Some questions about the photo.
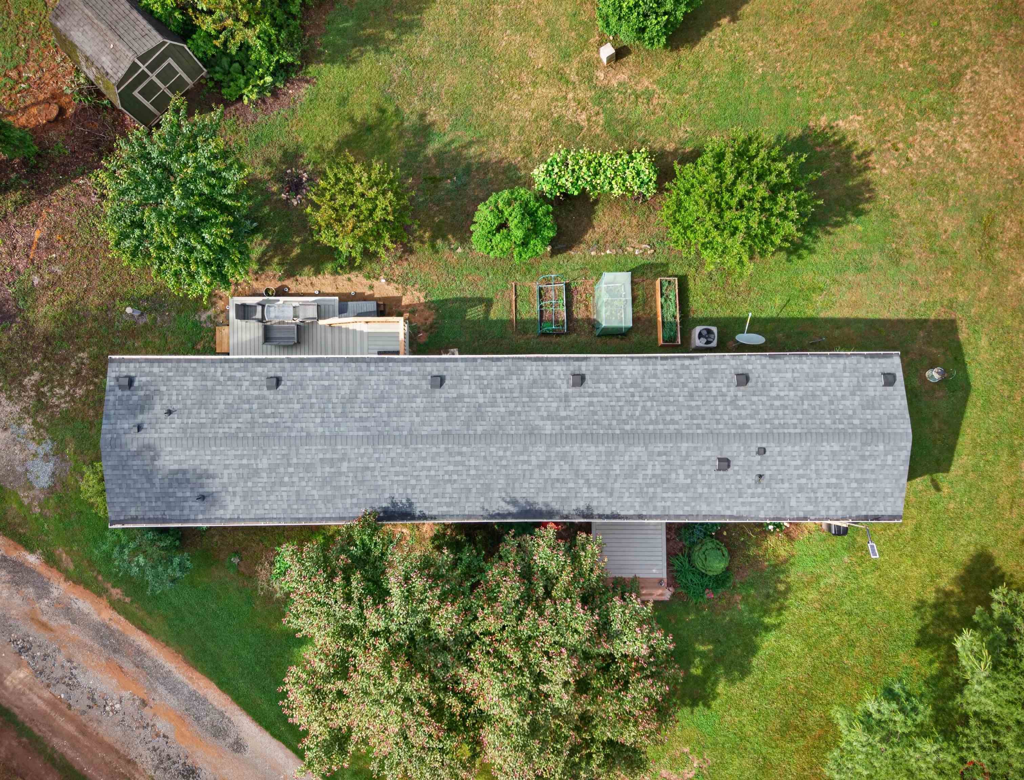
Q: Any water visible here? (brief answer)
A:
No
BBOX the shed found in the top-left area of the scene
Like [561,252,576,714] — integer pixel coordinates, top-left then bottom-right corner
[49,0,208,127]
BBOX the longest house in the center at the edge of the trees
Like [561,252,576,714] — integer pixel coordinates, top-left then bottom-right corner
[99,352,911,527]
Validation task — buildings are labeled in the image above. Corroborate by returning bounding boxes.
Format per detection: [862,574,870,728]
[99,352,911,527]
[49,0,208,127]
